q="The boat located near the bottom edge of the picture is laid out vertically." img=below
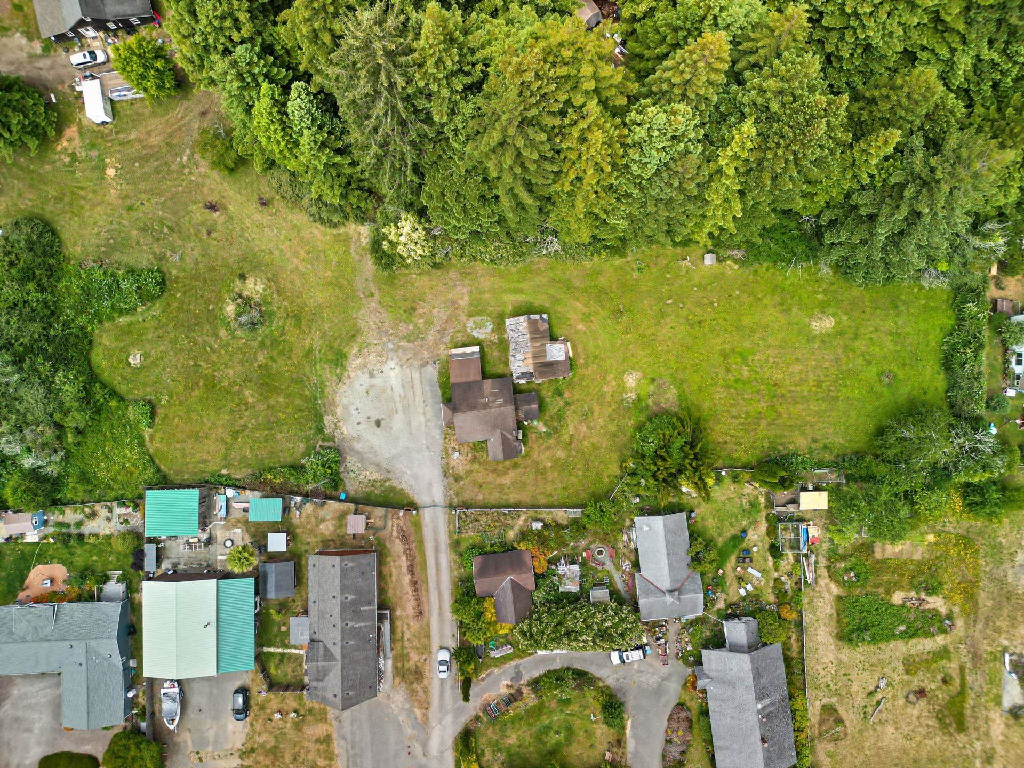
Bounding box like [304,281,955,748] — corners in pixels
[160,682,178,731]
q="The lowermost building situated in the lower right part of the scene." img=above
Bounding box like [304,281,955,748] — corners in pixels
[692,615,797,768]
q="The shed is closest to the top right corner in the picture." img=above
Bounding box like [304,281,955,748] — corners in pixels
[989,300,1012,314]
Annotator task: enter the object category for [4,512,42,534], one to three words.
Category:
shed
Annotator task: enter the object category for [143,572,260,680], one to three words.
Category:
building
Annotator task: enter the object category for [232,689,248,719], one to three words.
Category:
car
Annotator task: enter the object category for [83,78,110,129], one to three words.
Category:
trailer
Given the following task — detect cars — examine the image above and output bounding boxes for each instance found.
[69,48,107,67]
[232,689,248,719]
[611,647,646,665]
[436,648,451,679]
